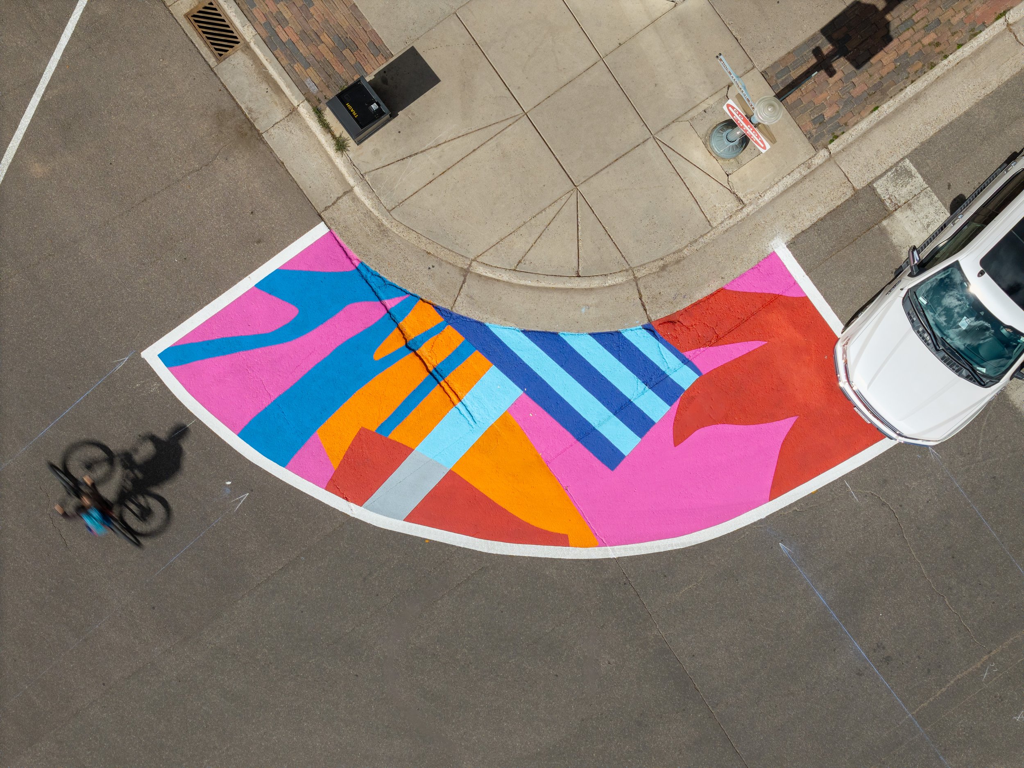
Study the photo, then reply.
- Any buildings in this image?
No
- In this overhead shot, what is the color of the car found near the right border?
white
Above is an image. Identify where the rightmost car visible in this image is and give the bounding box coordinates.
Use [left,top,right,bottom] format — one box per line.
[832,146,1024,447]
